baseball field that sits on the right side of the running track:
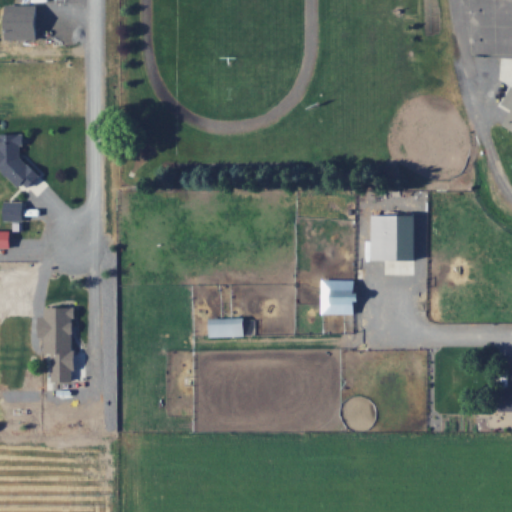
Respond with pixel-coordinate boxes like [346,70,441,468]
[388,96,472,186]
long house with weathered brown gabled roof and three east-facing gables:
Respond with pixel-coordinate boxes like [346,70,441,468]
[37,308,74,382]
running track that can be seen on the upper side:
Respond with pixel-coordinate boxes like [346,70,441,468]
[140,0,318,134]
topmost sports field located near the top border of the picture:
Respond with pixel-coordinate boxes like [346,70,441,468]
[152,0,304,120]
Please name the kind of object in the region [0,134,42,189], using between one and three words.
house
